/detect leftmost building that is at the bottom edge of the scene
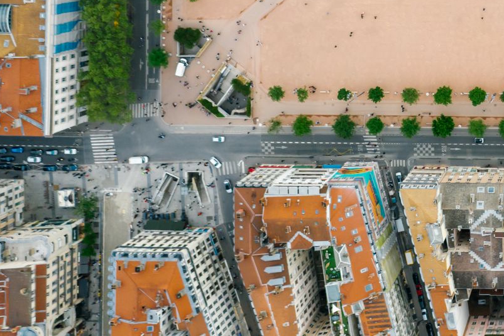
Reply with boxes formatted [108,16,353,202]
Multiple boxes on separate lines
[0,217,83,336]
